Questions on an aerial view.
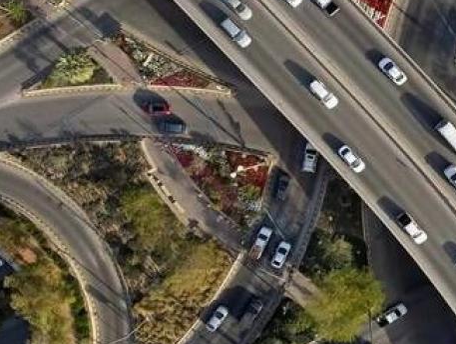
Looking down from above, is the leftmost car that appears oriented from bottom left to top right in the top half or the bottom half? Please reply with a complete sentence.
Seen from above, the leftmost car that appears oriented from bottom left to top right lies in the bottom half of the view.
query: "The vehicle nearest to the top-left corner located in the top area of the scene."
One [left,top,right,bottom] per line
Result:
[143,99,172,113]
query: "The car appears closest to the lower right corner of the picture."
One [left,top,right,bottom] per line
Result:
[380,304,403,325]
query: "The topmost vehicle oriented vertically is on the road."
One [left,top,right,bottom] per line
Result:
[302,143,317,172]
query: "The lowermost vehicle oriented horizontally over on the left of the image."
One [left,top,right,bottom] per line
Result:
[157,120,186,133]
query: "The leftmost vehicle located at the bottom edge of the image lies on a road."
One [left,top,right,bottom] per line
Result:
[206,304,228,332]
